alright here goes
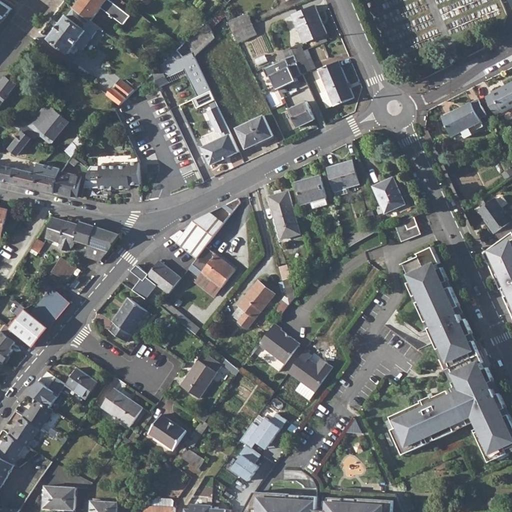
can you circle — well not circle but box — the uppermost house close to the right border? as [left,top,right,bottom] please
[481,78,512,116]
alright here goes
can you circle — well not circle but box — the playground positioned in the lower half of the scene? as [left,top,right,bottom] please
[342,454,367,479]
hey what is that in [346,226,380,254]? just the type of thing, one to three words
shed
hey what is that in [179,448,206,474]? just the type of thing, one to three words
barn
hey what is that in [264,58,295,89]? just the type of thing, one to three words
house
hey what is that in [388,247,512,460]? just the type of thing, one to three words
building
